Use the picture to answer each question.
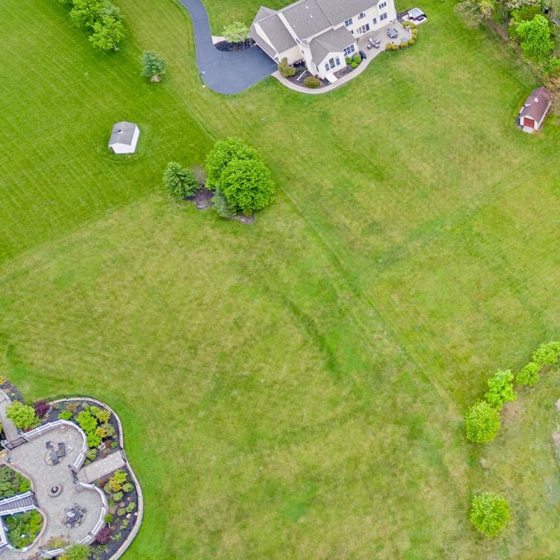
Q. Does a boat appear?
No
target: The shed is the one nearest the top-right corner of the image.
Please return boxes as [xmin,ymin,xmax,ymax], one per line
[520,90,552,134]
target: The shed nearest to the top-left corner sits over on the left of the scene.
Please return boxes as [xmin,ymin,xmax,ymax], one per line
[110,118,143,157]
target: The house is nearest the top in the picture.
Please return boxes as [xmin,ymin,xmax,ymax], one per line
[244,0,398,79]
